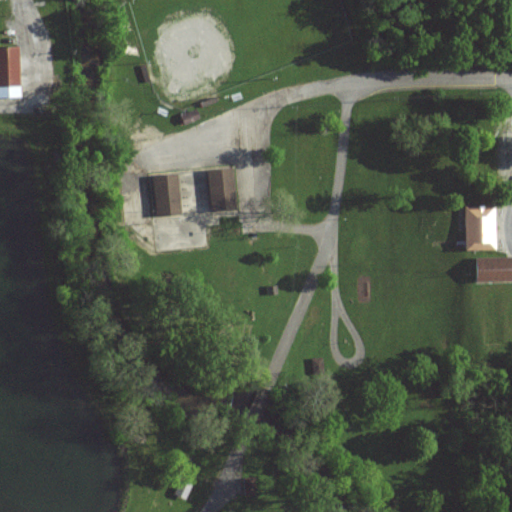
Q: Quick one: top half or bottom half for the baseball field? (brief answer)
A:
top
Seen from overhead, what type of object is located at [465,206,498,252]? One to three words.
house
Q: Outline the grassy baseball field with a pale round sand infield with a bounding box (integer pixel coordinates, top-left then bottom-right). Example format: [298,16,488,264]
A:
[130,0,363,106]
